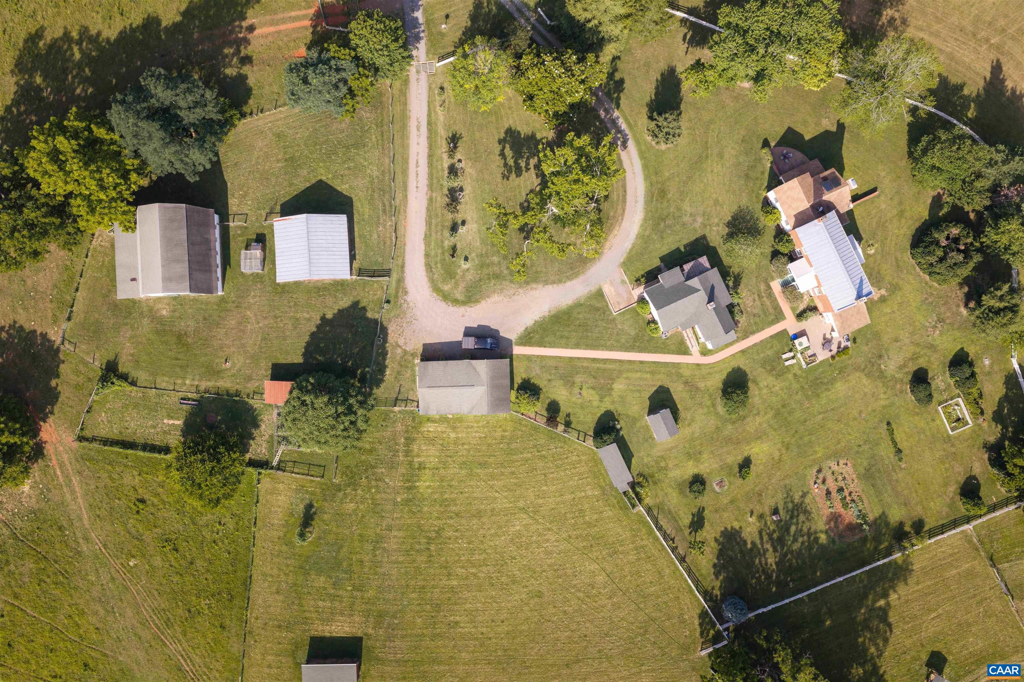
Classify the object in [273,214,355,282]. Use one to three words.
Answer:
barn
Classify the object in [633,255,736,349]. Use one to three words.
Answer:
house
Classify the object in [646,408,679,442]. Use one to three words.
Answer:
shed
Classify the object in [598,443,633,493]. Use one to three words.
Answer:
shed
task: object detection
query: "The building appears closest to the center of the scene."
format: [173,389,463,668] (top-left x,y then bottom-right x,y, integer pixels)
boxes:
[418,359,511,415]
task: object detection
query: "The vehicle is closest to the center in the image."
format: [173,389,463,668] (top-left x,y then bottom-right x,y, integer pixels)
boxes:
[460,336,499,351]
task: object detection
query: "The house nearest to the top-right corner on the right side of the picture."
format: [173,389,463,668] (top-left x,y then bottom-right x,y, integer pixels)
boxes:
[764,159,875,337]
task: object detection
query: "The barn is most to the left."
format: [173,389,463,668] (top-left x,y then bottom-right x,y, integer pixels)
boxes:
[115,203,221,301]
